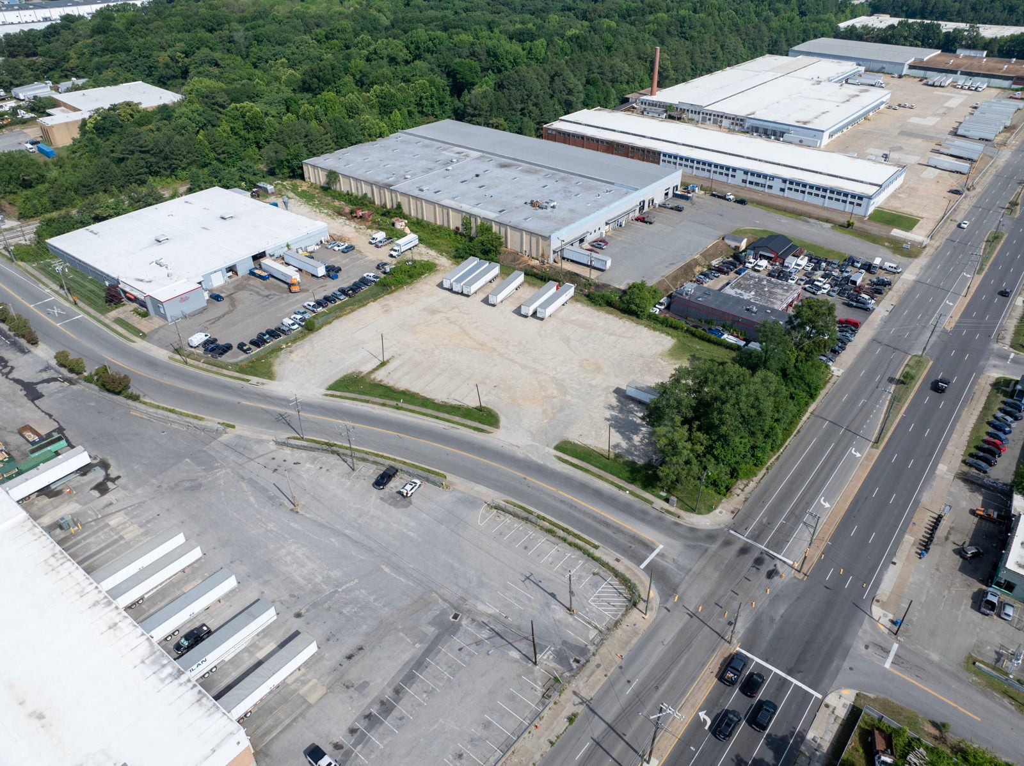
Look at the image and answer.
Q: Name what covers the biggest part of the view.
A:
paved ground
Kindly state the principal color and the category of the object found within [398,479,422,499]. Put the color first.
white car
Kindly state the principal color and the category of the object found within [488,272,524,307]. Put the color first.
white trailer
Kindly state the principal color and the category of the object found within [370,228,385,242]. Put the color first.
white vehicle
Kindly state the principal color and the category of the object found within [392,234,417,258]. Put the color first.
white truck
